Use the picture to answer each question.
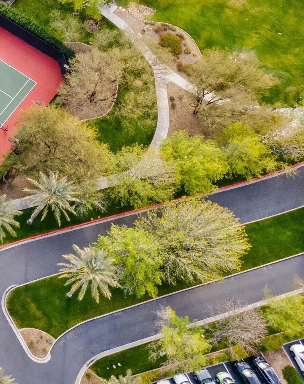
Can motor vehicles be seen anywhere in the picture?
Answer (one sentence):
Yes, you can see a motor vehicle in this photo.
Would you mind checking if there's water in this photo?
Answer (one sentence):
No, no water is visible.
